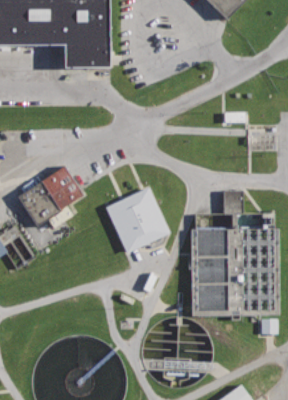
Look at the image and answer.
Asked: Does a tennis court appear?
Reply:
No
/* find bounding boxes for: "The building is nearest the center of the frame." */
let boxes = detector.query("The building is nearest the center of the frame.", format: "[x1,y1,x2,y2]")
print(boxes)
[106,189,172,252]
